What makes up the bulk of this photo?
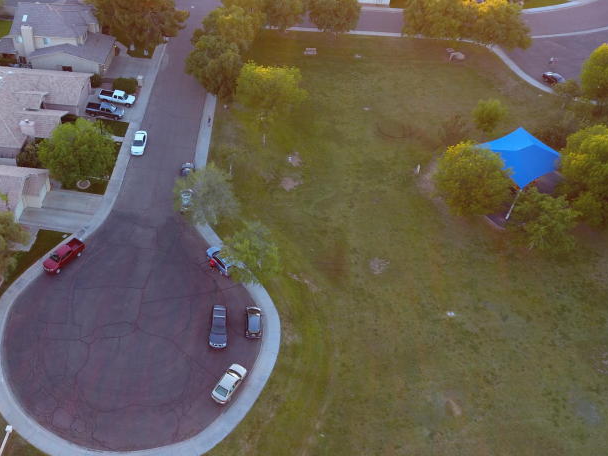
grass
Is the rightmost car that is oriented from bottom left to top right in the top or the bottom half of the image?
bottom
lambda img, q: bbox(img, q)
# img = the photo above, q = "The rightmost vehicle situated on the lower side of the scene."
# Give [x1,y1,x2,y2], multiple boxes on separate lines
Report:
[246,306,263,337]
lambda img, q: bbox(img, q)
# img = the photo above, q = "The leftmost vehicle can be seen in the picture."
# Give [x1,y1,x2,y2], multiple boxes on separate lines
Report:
[44,235,84,270]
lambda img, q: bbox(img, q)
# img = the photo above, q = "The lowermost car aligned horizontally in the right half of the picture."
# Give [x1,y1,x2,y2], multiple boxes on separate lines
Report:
[540,69,569,84]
